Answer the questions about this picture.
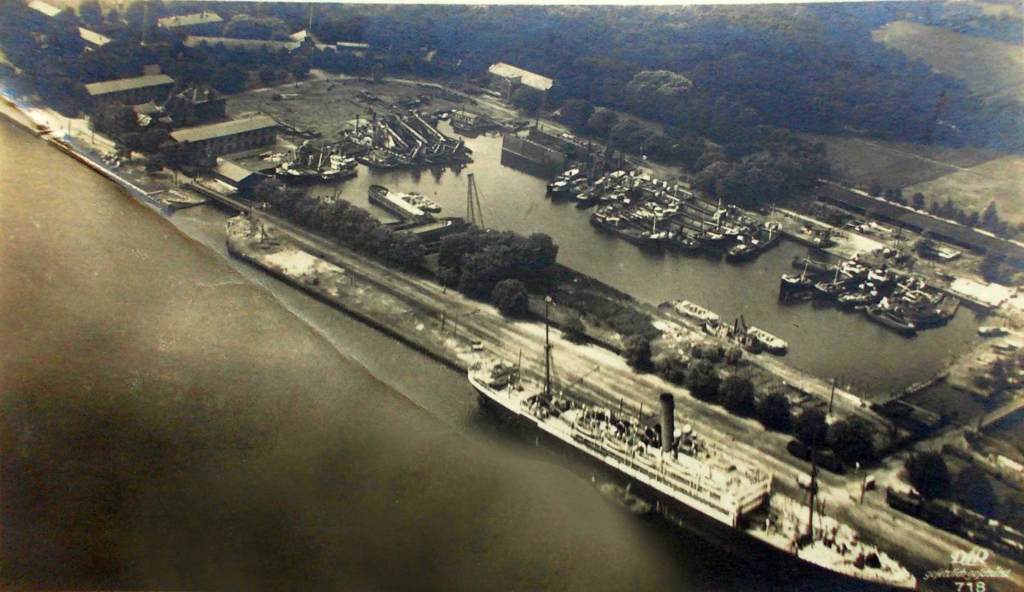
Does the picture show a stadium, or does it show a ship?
ship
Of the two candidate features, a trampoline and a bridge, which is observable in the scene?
bridge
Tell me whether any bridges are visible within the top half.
Yes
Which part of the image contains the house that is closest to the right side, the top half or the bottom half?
bottom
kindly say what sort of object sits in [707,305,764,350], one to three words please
ship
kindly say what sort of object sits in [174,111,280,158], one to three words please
building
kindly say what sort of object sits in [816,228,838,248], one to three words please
shed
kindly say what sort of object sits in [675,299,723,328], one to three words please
ship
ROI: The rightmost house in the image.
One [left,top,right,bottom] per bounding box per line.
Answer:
[996,450,1024,483]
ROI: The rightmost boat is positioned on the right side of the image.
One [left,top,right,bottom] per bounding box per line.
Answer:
[992,343,1021,355]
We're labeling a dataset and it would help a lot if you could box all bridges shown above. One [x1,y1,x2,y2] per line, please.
[173,176,261,217]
